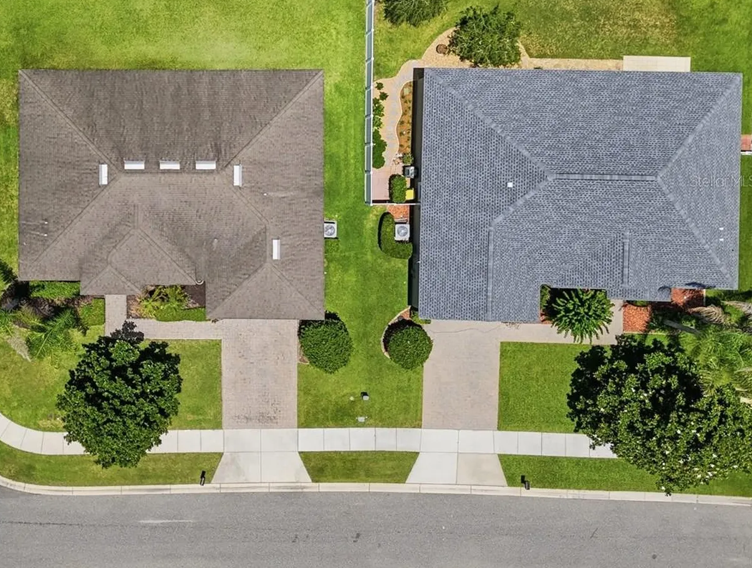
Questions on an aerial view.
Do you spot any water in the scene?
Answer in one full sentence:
No, no water is visible.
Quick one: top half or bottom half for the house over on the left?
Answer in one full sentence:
It is in the top half that the house over on the left appears.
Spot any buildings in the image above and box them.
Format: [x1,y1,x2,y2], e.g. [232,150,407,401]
[18,68,325,321]
[413,68,743,322]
